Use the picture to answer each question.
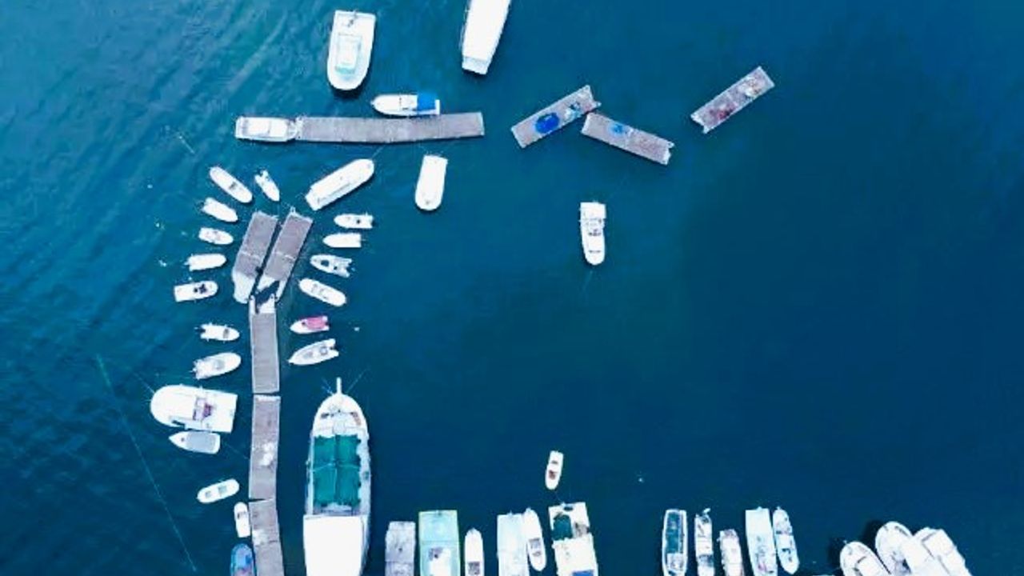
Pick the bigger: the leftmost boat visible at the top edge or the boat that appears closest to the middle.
the leftmost boat visible at the top edge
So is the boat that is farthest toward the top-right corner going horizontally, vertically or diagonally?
vertically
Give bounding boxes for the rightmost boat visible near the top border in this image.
[461,0,512,82]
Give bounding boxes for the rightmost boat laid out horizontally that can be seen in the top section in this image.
[372,93,445,116]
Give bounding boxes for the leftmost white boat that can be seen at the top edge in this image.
[325,5,375,89]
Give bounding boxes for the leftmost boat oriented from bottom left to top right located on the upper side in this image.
[302,158,374,212]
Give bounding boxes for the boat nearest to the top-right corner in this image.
[579,197,607,265]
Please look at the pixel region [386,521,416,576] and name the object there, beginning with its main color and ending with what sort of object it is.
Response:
white boat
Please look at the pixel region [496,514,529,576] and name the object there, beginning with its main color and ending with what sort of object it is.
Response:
white boat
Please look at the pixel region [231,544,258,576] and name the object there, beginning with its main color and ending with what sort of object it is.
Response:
blue boat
